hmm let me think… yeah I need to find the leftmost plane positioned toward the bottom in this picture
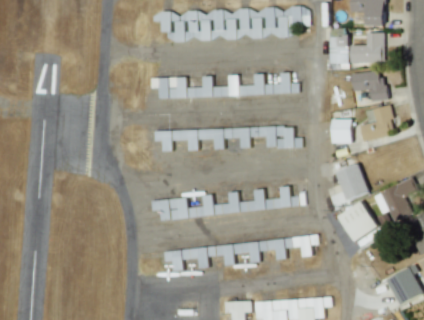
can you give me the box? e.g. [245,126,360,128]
[157,263,180,282]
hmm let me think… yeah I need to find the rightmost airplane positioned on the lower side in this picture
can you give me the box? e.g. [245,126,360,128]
[234,256,258,272]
